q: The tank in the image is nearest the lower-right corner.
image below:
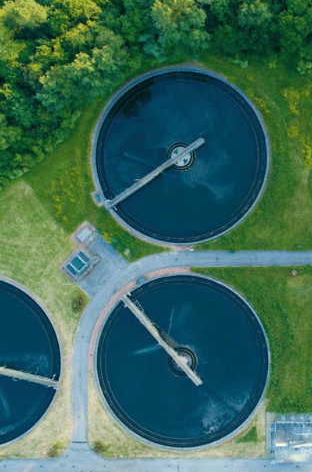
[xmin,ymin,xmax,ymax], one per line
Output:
[93,272,272,450]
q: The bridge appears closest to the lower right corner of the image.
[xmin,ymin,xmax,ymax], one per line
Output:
[118,292,202,385]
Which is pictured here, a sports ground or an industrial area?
industrial area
